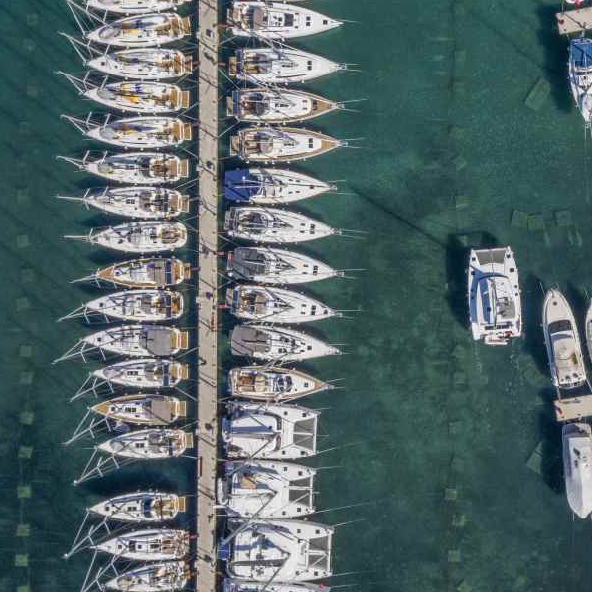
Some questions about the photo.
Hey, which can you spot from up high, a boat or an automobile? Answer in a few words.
boat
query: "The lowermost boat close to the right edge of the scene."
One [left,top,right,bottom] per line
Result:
[561,415,592,562]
